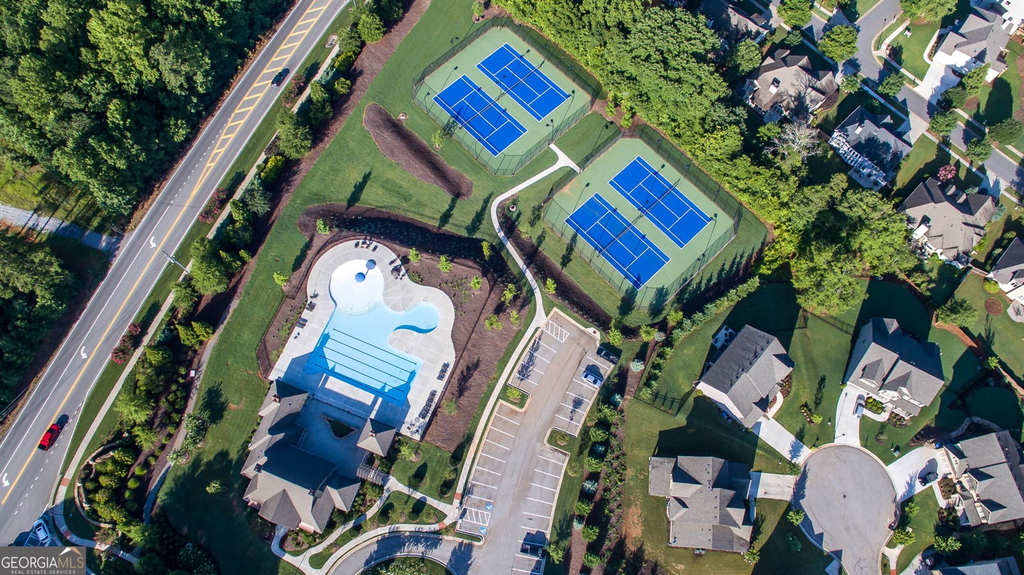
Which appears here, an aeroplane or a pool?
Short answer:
pool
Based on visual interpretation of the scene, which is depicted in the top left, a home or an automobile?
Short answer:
automobile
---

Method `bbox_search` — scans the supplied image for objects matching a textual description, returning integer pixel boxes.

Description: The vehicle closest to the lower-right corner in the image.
[919,551,946,572]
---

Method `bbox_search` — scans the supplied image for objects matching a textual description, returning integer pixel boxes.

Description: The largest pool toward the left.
[267,239,456,482]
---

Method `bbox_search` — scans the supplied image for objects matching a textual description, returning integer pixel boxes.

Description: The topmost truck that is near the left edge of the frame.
[35,423,60,452]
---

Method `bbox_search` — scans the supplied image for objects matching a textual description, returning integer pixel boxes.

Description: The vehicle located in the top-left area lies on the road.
[271,68,288,85]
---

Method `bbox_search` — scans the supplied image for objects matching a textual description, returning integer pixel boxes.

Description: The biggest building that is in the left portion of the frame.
[236,380,363,534]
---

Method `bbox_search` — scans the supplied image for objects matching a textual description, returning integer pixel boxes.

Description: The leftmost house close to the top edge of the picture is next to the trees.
[699,0,770,52]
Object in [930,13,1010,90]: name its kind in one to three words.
house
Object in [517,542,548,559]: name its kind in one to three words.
vehicle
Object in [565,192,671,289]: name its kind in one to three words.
tennis court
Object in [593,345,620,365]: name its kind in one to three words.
vehicle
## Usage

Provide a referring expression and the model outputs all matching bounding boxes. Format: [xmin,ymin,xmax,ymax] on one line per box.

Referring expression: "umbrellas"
[387,264,401,277]
[411,415,421,426]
